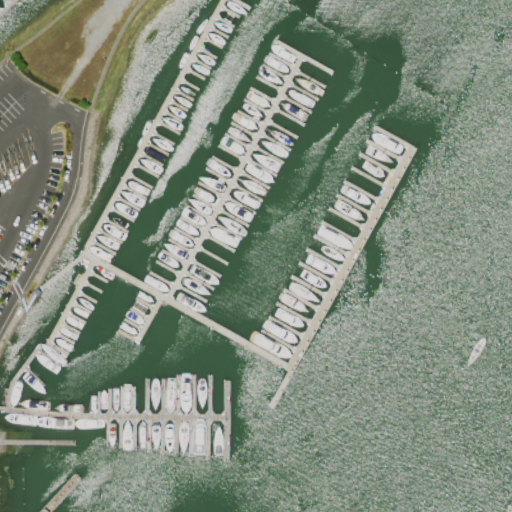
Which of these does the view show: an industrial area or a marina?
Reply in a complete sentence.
The area seen from above is a marina.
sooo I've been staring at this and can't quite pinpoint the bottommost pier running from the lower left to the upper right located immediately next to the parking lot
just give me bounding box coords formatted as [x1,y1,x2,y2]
[4,336,50,406]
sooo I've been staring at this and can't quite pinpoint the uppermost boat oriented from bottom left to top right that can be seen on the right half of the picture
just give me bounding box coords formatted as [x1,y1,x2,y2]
[468,336,489,366]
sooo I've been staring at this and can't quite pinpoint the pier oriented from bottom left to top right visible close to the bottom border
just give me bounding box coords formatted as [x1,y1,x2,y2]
[40,474,81,512]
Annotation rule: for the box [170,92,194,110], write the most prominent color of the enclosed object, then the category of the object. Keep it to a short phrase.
white boat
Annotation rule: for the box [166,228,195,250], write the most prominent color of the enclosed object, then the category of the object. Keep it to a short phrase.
white boat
